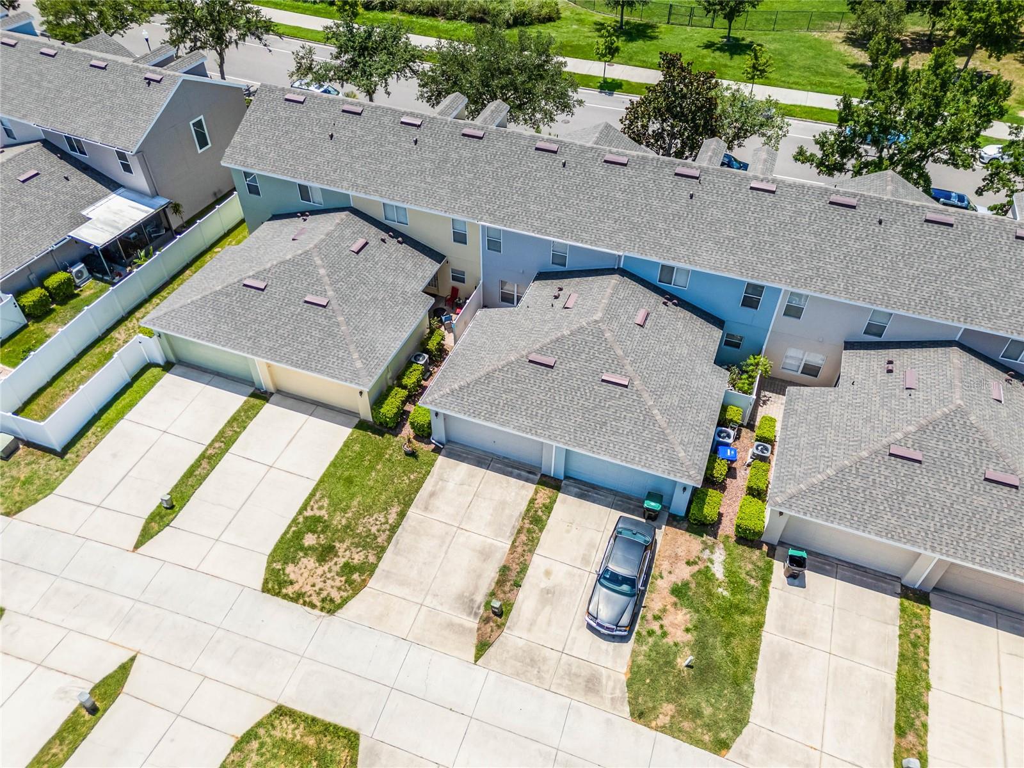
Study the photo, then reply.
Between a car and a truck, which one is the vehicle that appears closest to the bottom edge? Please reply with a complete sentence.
The vehicle that appears closest to the bottom edge appears to be a car.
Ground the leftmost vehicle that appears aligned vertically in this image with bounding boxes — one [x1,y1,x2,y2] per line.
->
[586,512,662,641]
